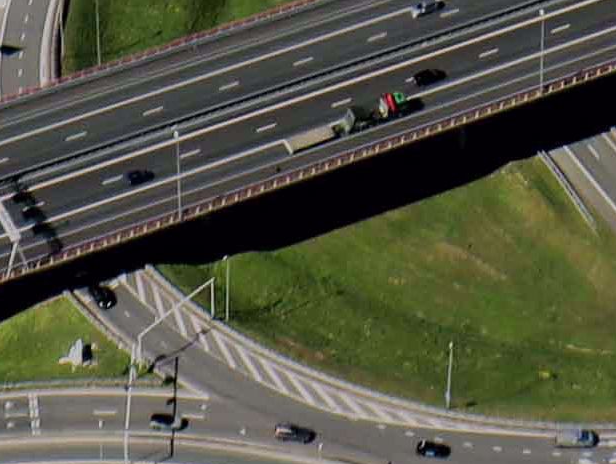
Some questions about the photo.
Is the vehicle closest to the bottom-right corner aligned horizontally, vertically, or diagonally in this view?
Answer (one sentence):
In this picture, the vehicle closest to the bottom-right corner lies horizontally.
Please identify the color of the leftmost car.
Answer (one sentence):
In this view, the leftmost car is black.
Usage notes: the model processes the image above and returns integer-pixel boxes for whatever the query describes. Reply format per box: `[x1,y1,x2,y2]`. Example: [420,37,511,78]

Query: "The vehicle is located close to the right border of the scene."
[555,429,595,449]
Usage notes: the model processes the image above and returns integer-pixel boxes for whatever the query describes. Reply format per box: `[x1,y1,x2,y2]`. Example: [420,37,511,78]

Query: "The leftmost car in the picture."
[88,285,114,309]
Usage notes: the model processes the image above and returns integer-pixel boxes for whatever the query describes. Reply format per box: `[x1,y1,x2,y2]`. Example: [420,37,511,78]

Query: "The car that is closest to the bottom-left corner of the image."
[149,415,180,431]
